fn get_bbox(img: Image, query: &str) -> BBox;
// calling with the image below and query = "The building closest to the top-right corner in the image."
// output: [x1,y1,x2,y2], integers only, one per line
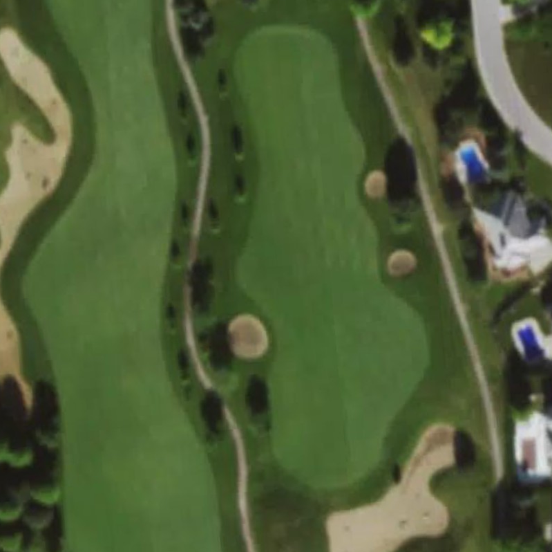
[493,196,552,277]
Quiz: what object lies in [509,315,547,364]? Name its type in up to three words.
swimming pool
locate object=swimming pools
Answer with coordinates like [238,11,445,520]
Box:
[509,315,547,364]
[454,138,490,187]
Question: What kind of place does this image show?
golf course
